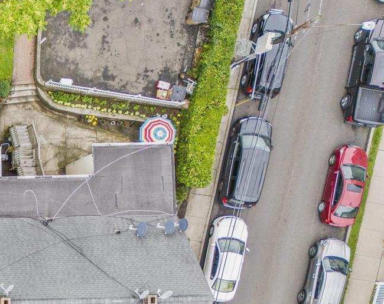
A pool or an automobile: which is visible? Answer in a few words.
automobile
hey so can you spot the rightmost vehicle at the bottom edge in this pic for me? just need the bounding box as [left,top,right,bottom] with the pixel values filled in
[299,237,354,304]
